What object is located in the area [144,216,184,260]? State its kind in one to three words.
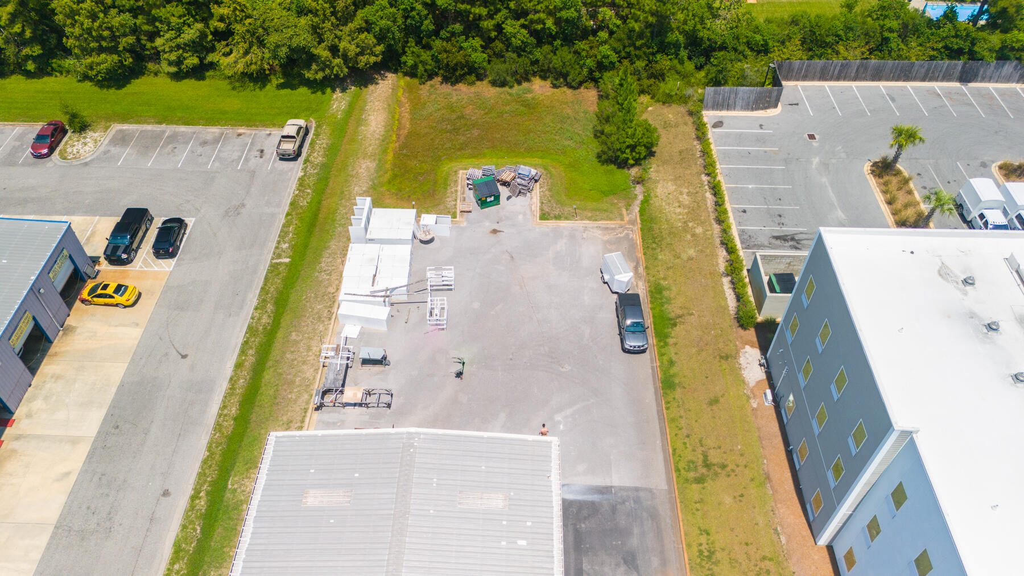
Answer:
car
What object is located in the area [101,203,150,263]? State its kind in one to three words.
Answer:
truck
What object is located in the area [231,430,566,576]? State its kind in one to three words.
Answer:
warehouse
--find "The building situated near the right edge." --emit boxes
[765,228,1024,576]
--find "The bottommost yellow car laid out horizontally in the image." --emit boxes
[72,277,141,307]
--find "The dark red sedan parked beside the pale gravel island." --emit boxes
[25,120,65,157]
